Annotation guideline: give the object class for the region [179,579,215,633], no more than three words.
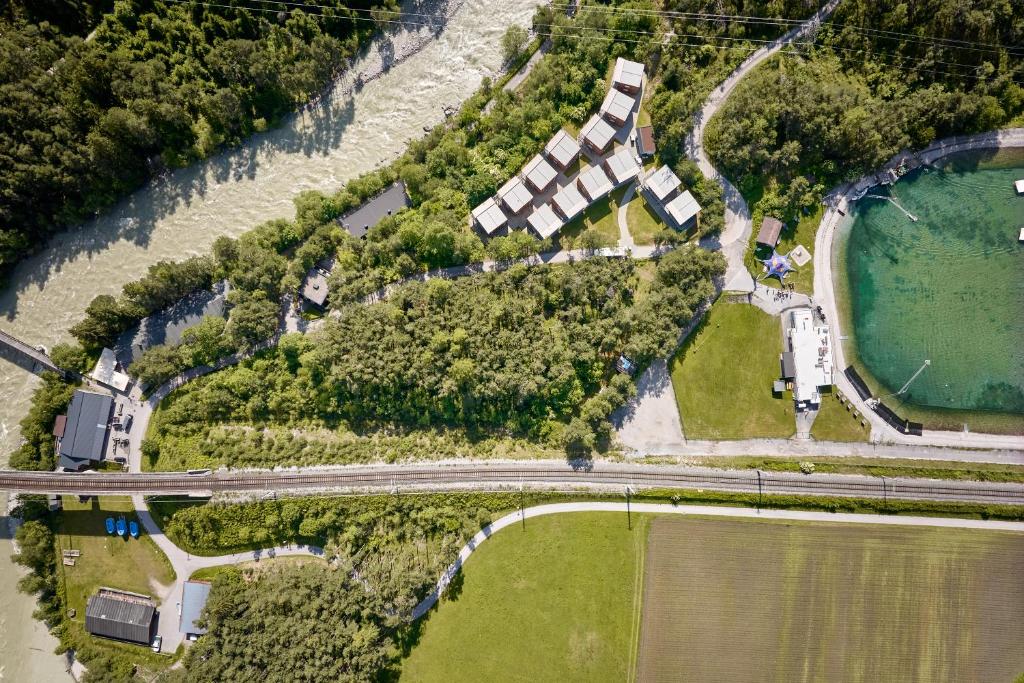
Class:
building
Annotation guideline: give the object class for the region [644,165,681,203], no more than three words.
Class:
house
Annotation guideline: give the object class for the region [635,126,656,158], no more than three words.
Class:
shed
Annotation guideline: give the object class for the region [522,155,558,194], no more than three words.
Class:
house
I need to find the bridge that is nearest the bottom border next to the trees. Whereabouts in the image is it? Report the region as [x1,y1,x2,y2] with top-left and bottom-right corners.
[0,461,213,504]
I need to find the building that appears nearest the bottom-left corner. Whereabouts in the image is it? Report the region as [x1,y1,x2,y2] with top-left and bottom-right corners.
[87,586,161,643]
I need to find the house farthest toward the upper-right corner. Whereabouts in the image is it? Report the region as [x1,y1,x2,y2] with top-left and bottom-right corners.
[753,216,783,247]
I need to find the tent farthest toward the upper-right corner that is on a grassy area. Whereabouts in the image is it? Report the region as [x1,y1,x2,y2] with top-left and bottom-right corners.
[751,249,800,285]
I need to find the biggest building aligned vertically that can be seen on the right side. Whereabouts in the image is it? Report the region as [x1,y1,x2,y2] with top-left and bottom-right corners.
[783,311,832,403]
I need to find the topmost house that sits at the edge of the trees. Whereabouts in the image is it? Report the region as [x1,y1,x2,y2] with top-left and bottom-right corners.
[610,58,645,94]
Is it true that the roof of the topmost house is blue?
No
